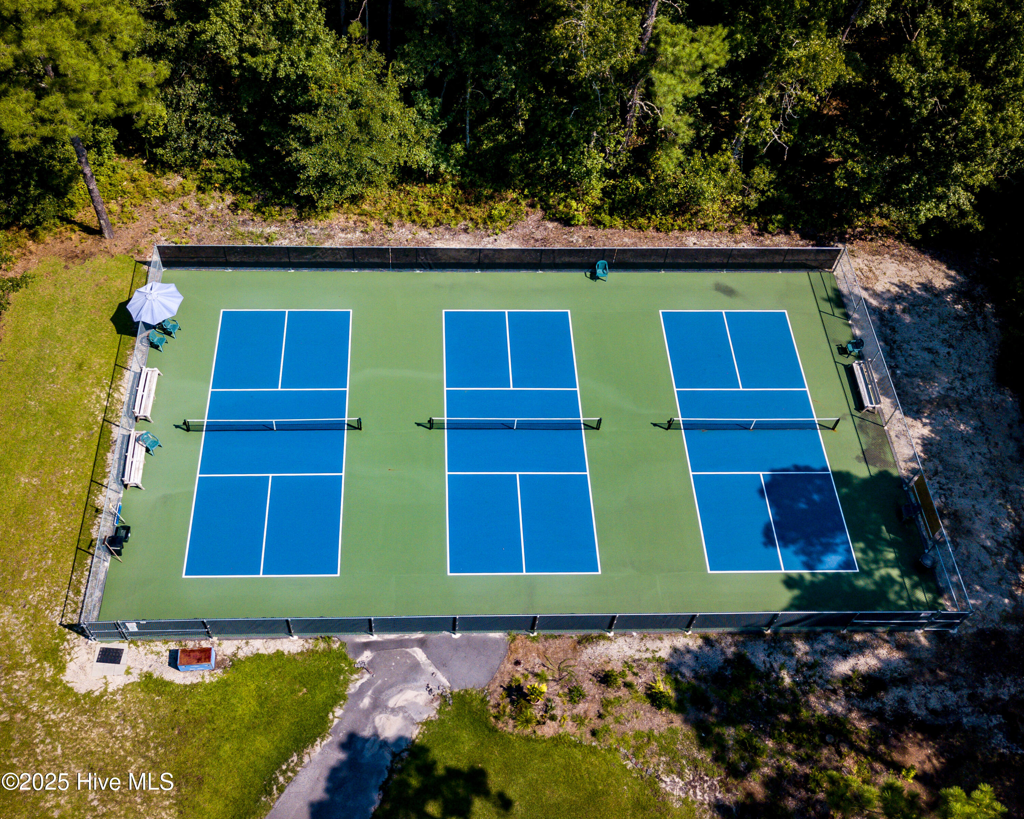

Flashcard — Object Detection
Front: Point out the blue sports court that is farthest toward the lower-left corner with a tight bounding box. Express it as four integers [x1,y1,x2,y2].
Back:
[183,309,352,578]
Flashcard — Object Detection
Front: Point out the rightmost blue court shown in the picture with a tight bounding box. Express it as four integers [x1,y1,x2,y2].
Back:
[660,310,859,573]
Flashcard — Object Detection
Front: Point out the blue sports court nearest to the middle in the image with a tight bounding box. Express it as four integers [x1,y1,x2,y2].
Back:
[442,309,601,575]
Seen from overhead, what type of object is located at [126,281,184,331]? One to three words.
umbrella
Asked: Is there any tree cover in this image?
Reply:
Yes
